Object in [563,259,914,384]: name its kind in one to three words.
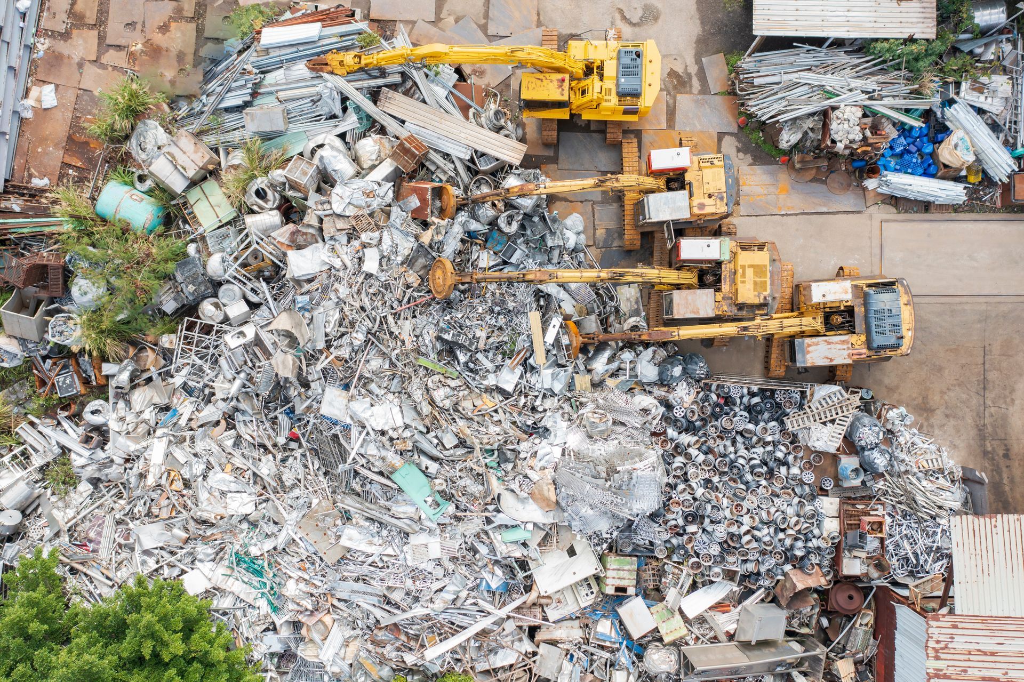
work vehicle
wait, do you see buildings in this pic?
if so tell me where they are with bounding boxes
[950,514,1024,617]
[925,614,1024,682]
[730,0,937,38]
